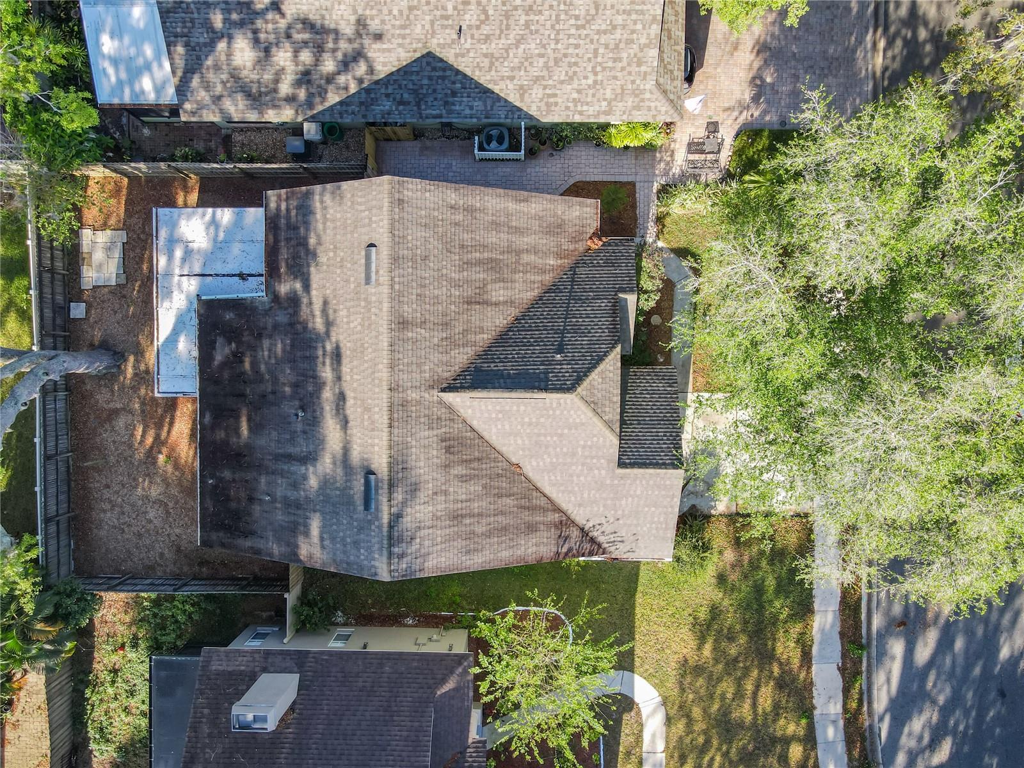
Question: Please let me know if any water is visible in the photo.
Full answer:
No, water can't be seen anywhere here.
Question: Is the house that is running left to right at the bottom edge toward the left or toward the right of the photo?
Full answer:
You can find the house that is running left to right at the bottom edge on the left side of the picture.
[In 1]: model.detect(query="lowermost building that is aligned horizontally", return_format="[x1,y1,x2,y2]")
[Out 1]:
[177,626,487,768]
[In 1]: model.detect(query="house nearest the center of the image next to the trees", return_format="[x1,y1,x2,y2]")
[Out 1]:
[196,178,683,581]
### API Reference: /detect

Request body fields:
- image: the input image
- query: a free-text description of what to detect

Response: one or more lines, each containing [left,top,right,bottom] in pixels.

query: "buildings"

[196,178,683,581]
[177,626,487,768]
[160,0,685,128]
